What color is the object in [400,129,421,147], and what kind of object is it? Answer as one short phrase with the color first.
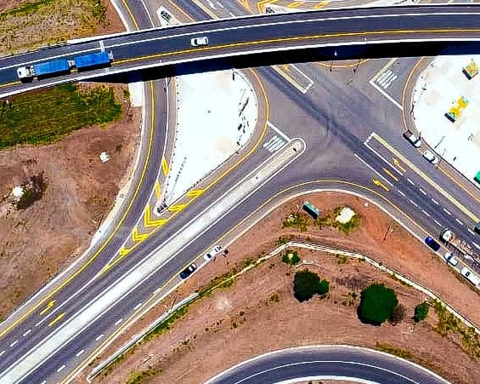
white vehicle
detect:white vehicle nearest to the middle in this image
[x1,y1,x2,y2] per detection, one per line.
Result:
[202,244,223,260]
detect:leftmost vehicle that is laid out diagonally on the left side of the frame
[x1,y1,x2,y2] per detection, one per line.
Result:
[179,262,198,278]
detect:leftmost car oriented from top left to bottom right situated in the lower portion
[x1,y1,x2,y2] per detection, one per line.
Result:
[423,235,440,251]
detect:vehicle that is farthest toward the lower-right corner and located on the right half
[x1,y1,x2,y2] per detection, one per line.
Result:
[460,266,480,285]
